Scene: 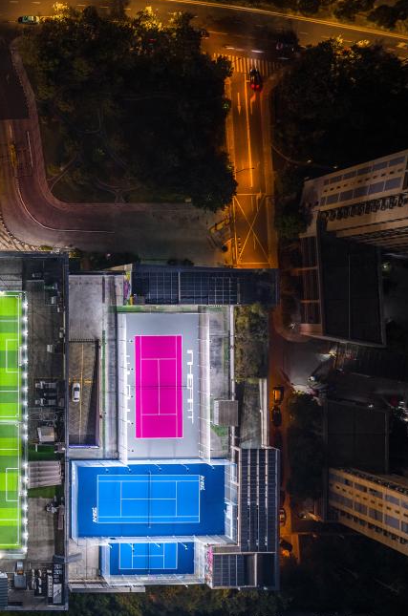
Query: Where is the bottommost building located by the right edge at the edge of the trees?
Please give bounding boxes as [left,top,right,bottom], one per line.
[329,472,408,549]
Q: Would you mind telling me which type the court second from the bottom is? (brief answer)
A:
tennis court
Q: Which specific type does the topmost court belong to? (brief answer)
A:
tennis court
